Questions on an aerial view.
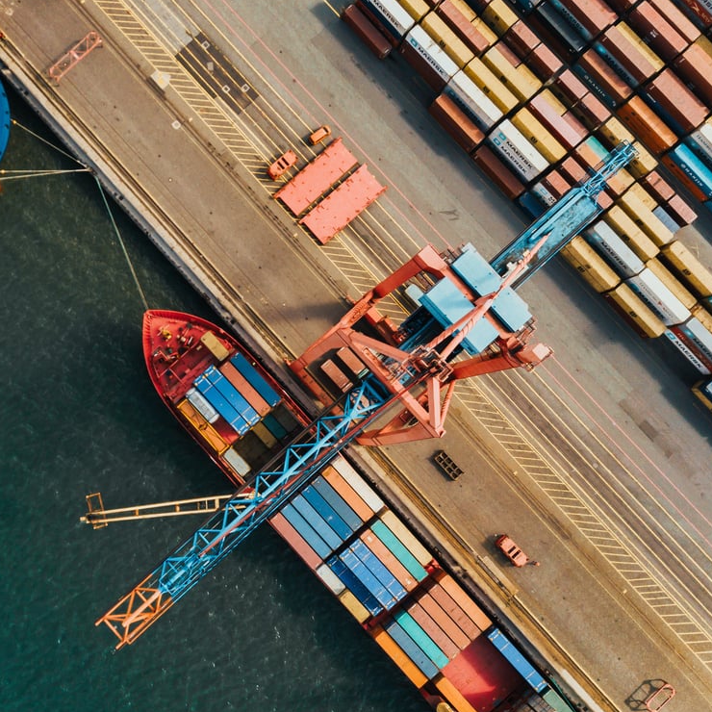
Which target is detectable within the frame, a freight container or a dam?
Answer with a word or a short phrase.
freight container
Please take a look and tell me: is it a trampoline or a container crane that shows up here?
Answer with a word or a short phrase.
container crane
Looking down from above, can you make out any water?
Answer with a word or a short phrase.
Yes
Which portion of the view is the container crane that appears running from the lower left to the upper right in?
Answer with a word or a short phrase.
center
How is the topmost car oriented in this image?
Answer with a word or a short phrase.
at an angle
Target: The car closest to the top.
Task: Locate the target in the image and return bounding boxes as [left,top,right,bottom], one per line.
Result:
[304,130,328,150]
